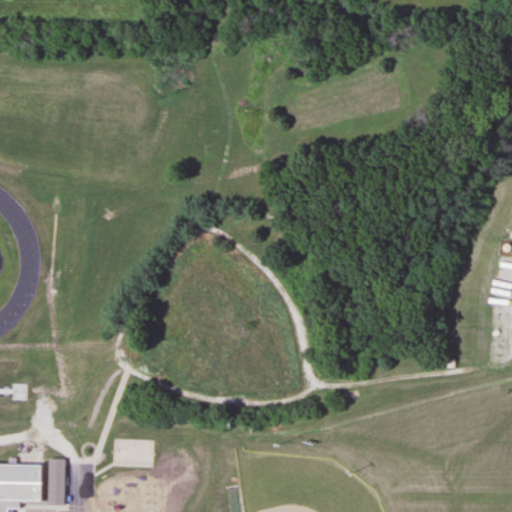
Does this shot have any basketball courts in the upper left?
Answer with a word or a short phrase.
No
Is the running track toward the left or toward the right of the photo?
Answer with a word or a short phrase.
left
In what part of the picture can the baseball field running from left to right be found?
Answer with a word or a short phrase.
bottom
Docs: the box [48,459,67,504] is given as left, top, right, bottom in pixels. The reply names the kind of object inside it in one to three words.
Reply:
building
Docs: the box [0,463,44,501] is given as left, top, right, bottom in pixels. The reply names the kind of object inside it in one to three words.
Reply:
building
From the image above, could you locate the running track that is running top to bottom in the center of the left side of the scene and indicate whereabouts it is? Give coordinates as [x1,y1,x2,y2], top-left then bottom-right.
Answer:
[0,190,40,334]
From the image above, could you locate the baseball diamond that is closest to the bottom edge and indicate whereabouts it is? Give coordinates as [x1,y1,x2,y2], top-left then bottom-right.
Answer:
[236,448,384,512]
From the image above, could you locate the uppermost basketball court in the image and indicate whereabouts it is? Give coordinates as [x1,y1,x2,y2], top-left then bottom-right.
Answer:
[114,439,154,468]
